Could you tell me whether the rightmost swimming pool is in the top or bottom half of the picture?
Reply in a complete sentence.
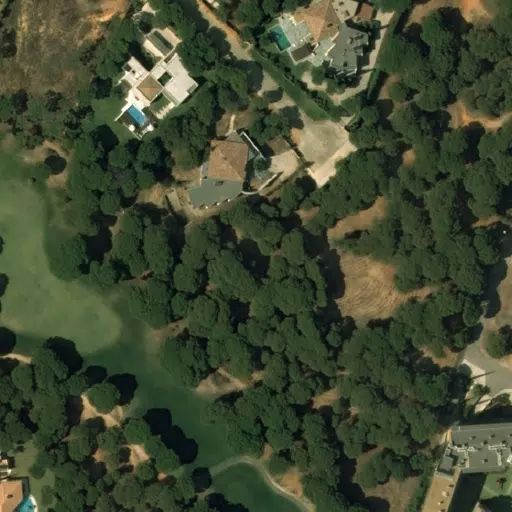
It is in the top half that the rightmost swimming pool appears.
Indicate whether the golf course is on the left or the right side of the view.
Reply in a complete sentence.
The golf course sits on the left side.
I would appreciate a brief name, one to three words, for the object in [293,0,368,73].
house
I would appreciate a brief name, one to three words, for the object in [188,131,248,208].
house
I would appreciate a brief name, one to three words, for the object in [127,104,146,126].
swimming pool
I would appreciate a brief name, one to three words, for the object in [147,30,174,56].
building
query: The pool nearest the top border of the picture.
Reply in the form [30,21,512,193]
[268,24,290,51]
